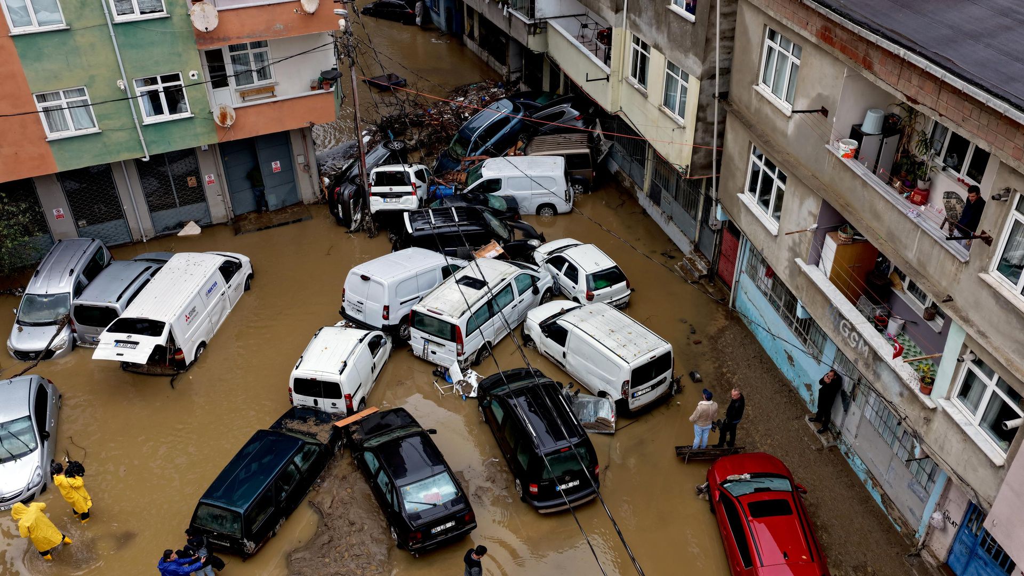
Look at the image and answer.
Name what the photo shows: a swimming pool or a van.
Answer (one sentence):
Visible in the photo is a van.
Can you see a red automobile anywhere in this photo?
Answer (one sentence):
Yes, a red automobile is visible in the scene.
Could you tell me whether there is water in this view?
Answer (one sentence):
Yes, water can be seen from above here.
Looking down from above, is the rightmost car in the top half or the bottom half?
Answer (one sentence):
The rightmost car sits in the bottom half of the picture.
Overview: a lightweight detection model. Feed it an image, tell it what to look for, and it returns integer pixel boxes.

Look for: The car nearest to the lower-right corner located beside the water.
[708,449,827,576]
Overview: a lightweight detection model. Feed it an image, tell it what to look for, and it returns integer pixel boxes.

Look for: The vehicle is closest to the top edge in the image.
[359,0,430,23]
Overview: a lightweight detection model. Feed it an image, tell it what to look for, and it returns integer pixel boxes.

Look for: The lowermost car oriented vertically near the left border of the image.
[0,375,60,508]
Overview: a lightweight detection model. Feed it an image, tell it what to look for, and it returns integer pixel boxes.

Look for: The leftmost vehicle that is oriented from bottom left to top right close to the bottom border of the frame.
[190,404,350,557]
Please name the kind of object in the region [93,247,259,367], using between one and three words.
van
